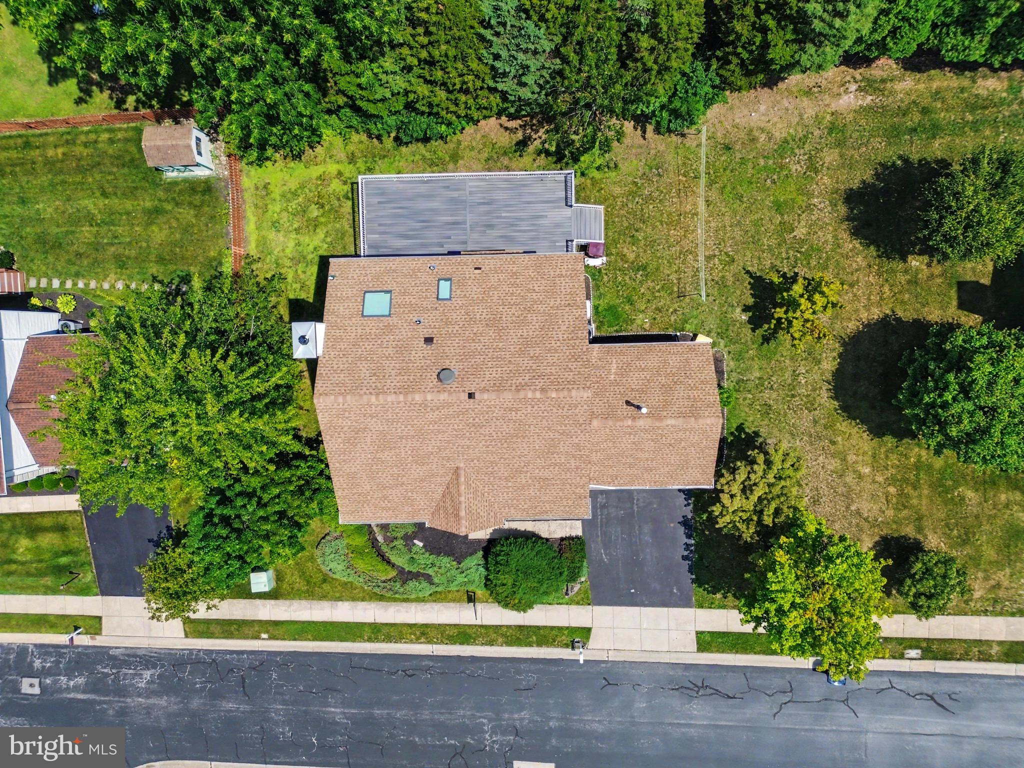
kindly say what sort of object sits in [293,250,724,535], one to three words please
house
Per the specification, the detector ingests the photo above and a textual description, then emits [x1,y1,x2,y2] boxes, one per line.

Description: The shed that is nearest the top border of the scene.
[140,124,218,181]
